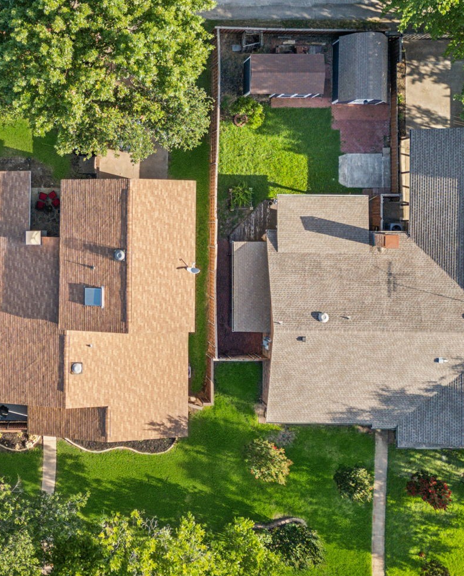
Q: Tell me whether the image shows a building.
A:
Yes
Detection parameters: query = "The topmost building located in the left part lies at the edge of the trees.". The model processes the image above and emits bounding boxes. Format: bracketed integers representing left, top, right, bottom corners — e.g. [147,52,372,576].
[0,172,195,441]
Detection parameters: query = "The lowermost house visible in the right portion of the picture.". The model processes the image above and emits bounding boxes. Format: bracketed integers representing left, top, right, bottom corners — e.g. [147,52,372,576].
[232,129,464,447]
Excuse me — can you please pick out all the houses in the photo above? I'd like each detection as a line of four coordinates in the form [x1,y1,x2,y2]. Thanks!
[0,172,195,441]
[232,129,464,447]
